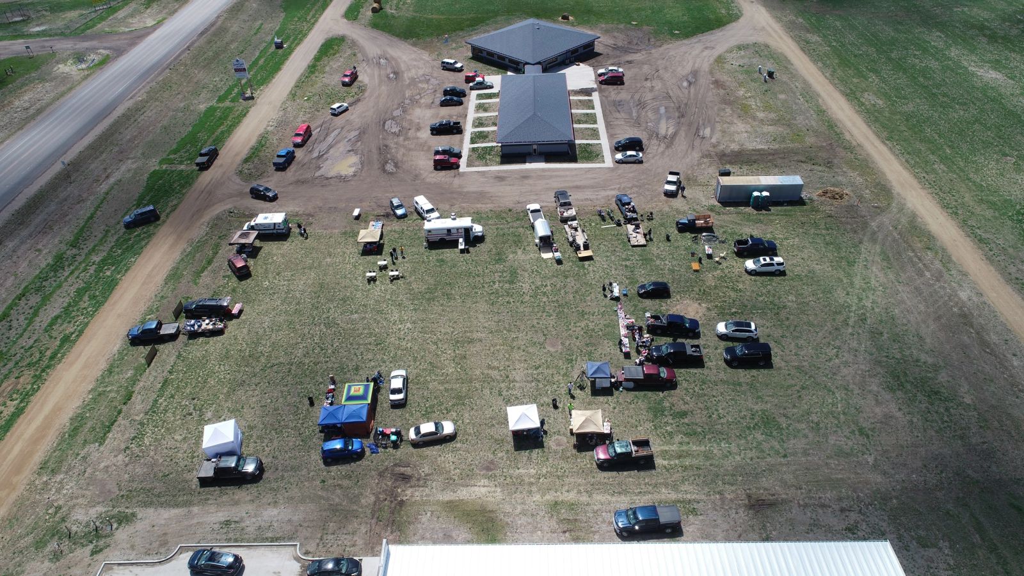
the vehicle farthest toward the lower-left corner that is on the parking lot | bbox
[186,548,244,576]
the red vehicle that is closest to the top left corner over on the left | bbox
[293,124,312,142]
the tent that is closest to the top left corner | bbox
[229,231,261,256]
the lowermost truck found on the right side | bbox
[613,507,686,538]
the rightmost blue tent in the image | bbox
[586,362,610,391]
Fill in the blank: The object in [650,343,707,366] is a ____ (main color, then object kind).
black truck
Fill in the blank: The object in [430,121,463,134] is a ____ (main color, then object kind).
black vehicle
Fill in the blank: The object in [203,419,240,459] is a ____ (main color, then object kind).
white tent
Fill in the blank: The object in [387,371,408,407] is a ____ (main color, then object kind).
white car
